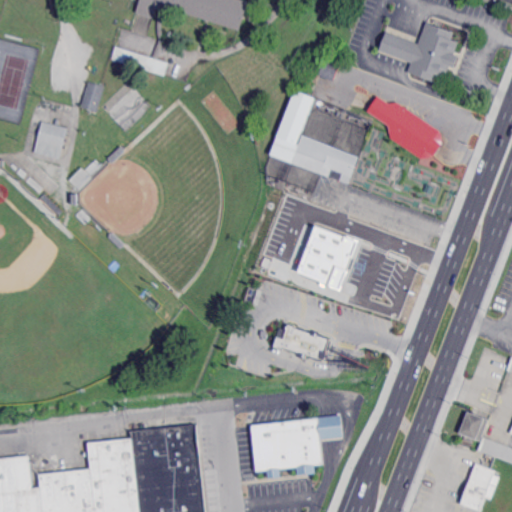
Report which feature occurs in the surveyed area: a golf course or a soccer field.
golf course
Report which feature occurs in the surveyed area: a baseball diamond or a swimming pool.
baseball diamond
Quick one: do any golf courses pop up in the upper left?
No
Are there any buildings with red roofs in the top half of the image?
Yes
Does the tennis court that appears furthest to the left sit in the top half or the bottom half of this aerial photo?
top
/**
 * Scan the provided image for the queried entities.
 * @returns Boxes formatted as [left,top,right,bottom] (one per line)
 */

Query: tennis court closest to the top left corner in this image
[0,38,38,124]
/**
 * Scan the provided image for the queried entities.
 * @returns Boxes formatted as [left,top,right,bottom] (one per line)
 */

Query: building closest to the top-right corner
[380,21,460,80]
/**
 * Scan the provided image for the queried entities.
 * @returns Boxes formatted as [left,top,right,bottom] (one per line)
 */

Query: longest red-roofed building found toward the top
[366,96,442,159]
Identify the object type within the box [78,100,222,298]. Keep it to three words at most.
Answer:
baseball field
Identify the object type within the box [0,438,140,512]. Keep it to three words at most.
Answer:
building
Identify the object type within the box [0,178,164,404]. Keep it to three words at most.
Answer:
baseball field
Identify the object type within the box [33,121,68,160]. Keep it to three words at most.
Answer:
shed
